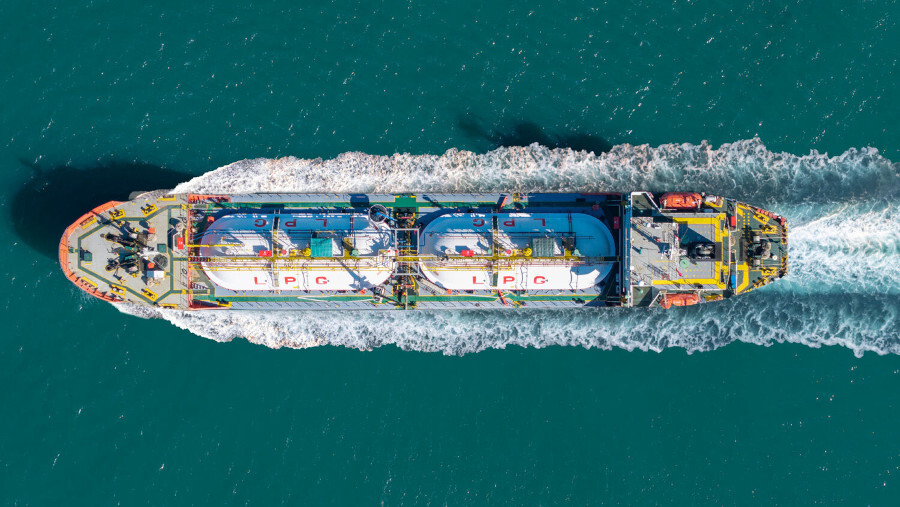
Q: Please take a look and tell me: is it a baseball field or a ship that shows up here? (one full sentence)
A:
There is a ship in the scene.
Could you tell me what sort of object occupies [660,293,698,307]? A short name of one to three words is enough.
boat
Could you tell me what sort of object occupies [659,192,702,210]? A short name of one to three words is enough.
boat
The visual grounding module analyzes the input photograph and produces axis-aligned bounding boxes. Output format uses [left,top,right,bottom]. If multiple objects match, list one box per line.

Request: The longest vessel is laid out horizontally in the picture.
[59,192,789,310]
